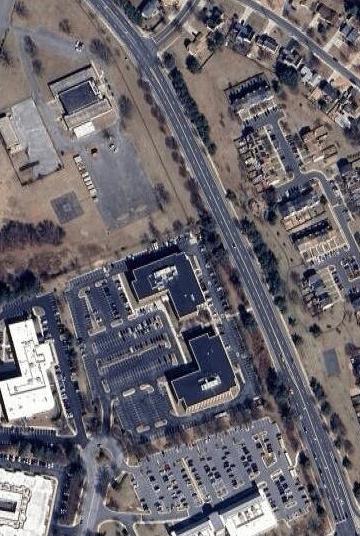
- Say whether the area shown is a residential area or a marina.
residential area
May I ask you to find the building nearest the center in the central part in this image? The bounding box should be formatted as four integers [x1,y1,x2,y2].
[133,252,206,320]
